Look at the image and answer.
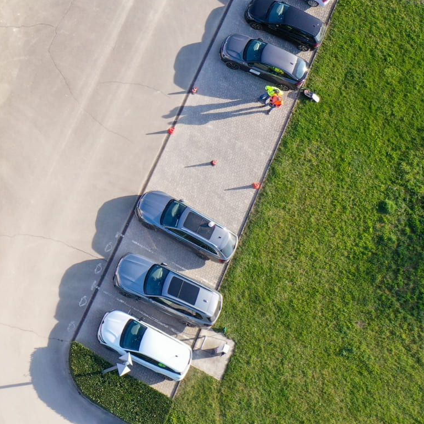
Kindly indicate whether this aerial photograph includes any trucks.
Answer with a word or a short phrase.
No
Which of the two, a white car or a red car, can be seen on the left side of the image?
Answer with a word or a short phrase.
white car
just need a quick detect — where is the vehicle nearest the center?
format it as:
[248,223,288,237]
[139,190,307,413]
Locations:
[133,193,243,268]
